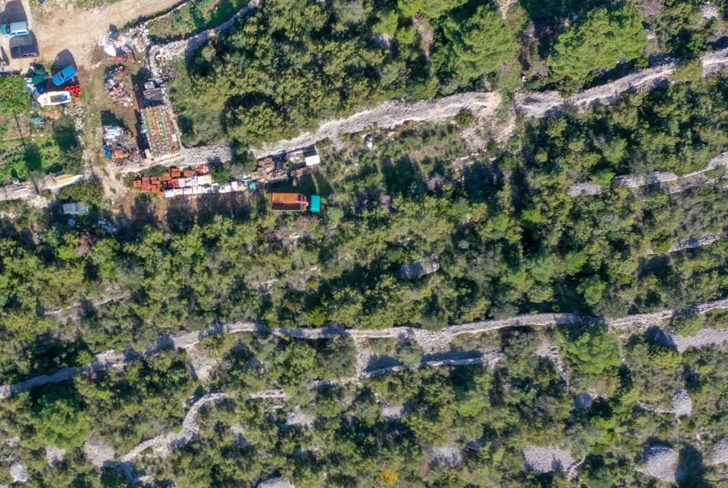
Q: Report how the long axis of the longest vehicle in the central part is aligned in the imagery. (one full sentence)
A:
I'd say the longest vehicle in the central part is aligned from left to right in the picture.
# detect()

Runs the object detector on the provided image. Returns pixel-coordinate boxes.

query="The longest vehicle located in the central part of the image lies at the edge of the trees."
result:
[267,193,323,213]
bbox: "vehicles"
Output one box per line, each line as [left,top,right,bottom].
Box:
[50,62,79,89]
[10,42,41,59]
[60,201,90,215]
[267,193,323,213]
[0,22,30,39]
